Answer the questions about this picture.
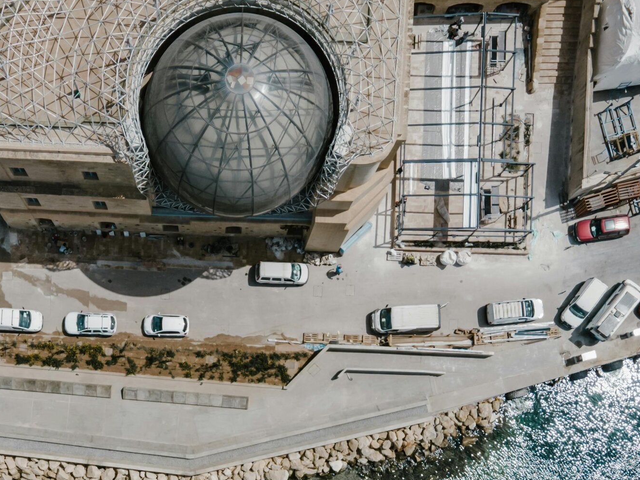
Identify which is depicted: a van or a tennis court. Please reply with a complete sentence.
The image shows a van.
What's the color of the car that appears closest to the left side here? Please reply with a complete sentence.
In this view, the car that appears closest to the left side is white.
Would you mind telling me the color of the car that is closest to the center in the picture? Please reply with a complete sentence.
From above, the car that is closest to the center appears white.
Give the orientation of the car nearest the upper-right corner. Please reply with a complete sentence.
In this picture, the car nearest the upper-right corner is oriented from side to side.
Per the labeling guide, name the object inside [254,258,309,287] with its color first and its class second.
white car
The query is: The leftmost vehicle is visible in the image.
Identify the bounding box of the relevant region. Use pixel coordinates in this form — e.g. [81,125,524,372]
[0,306,44,335]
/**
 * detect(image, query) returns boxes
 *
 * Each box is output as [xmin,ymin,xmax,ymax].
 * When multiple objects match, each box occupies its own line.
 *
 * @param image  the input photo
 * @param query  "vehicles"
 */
[369,300,454,336]
[581,276,640,347]
[559,274,614,332]
[143,312,189,338]
[254,258,309,287]
[569,215,633,246]
[483,296,542,326]
[0,306,44,335]
[64,310,119,338]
